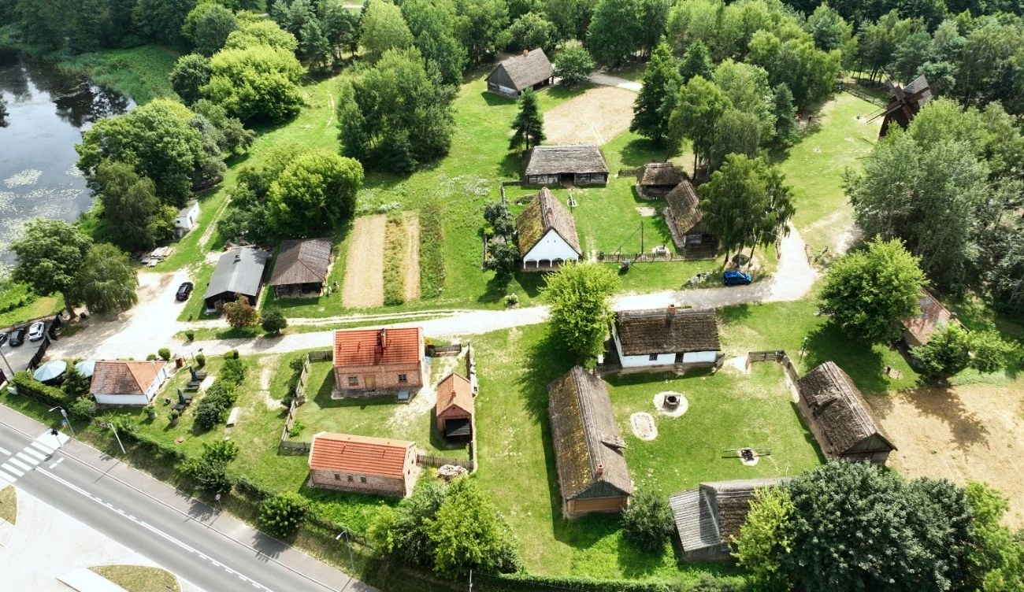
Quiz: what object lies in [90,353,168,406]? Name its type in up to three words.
house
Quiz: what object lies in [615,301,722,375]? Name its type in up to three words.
house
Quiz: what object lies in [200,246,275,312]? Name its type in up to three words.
shed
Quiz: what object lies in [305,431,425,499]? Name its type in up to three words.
barn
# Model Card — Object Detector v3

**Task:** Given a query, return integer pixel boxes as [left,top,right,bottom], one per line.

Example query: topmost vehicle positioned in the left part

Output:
[172,282,195,300]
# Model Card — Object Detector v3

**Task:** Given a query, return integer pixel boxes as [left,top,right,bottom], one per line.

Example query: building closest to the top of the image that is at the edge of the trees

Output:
[485,48,556,99]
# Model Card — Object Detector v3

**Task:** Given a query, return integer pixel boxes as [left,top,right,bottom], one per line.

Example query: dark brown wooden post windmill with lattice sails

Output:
[861,54,960,139]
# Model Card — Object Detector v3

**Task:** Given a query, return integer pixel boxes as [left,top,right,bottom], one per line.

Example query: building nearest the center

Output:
[516,187,580,271]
